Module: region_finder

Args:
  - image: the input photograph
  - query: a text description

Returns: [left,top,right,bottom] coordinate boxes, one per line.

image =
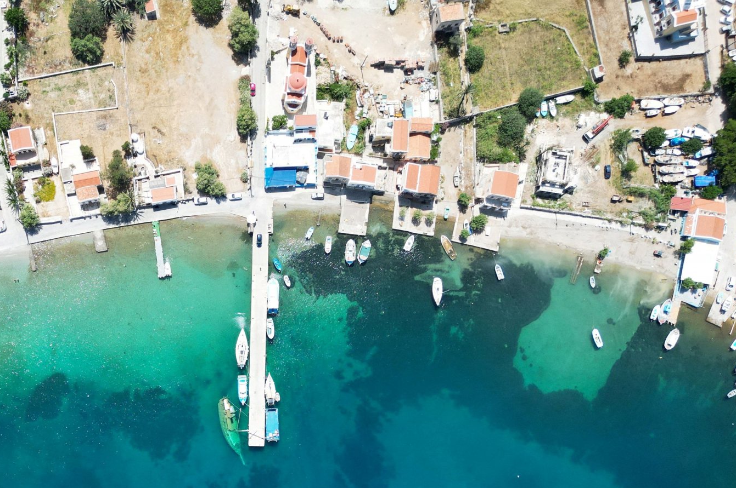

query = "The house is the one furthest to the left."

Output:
[7,125,44,178]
